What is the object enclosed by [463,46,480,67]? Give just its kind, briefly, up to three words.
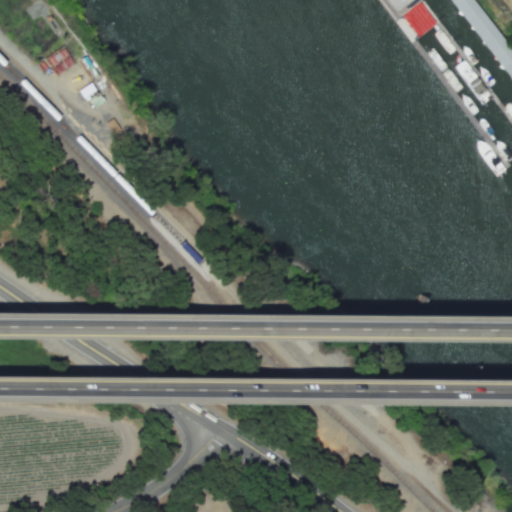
boat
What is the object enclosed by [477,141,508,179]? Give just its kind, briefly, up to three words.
boat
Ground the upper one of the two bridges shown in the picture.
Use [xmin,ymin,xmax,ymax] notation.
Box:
[0,314,512,342]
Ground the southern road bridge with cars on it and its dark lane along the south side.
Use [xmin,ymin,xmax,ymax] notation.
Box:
[0,377,512,406]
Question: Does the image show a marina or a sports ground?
marina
